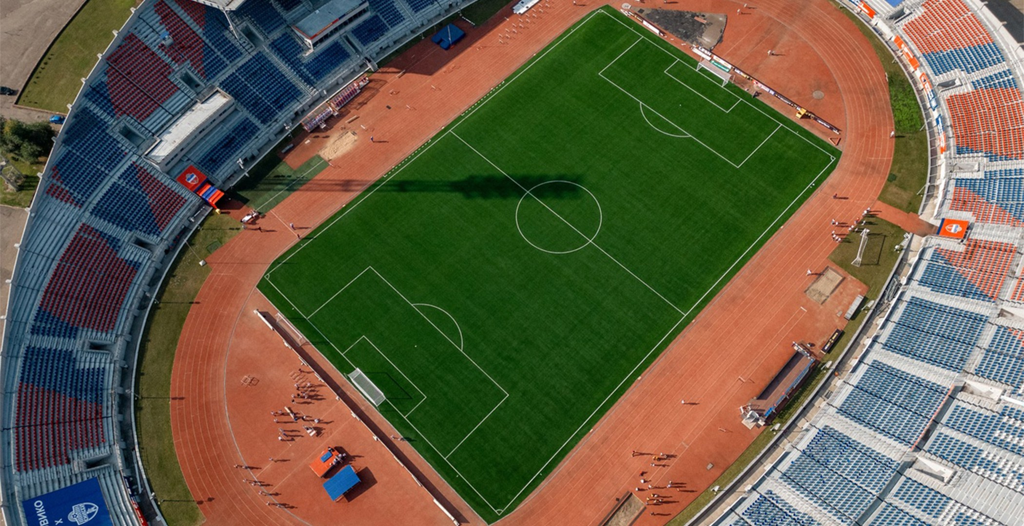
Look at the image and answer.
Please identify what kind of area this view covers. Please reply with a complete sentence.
This image shows a sports ground.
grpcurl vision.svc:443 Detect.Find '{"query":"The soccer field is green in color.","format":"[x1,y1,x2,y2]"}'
[256,4,840,523]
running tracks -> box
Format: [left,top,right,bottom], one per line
[170,0,893,526]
